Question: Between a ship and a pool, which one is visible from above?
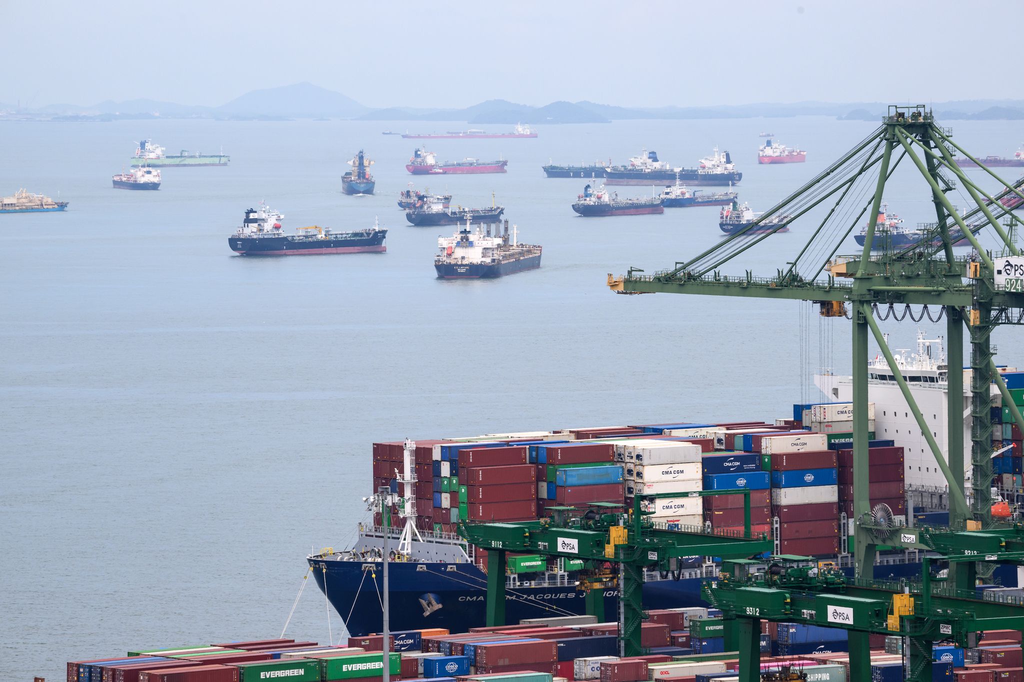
ship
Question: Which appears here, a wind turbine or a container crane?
container crane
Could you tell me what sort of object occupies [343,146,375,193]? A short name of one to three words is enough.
ship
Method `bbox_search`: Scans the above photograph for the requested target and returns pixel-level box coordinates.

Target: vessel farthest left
[0,187,67,213]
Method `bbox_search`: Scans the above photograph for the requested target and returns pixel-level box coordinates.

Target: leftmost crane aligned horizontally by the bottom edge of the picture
[449,487,784,649]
